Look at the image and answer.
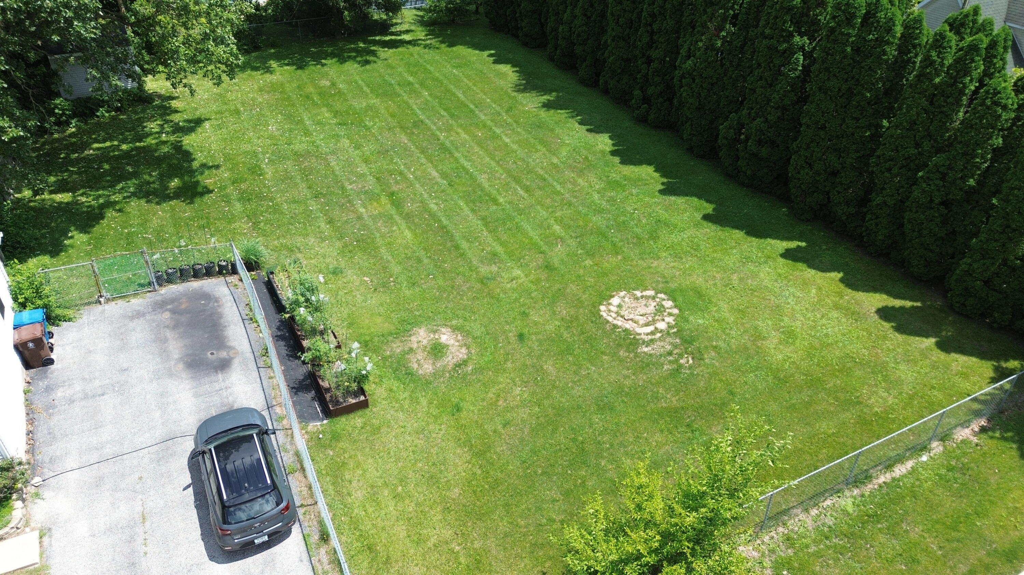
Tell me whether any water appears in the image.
No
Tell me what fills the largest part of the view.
grass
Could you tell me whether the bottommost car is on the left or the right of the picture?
left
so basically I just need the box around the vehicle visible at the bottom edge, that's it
[190,411,300,561]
